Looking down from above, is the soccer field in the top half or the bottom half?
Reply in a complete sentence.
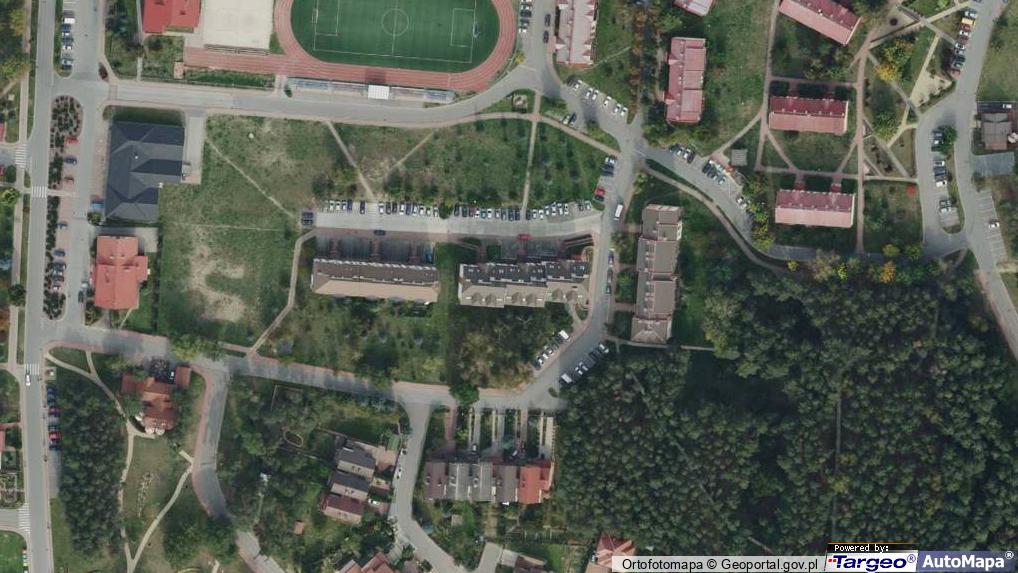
You can find the soccer field in the top half.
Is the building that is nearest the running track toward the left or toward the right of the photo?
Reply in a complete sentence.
You can find the building that is nearest the running track on the left side of the picture.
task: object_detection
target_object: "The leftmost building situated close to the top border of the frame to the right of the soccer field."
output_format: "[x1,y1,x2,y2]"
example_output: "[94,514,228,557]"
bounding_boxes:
[556,0,598,68]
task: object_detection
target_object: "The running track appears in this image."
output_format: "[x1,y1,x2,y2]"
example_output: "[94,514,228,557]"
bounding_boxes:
[183,0,514,89]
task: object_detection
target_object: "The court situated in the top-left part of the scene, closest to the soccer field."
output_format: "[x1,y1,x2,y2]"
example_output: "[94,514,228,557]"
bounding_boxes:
[204,0,273,50]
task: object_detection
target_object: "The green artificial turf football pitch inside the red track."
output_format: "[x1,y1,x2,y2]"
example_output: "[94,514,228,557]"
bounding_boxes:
[291,0,497,72]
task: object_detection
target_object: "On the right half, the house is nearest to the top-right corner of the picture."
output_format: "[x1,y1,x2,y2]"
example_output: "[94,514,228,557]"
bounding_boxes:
[983,113,1013,150]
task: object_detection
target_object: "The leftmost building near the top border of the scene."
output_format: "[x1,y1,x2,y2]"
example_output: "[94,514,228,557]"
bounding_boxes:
[140,0,200,34]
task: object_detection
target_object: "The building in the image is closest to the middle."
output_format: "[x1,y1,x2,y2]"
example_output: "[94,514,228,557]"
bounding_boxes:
[458,262,590,307]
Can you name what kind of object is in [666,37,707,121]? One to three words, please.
building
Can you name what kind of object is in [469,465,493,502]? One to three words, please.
house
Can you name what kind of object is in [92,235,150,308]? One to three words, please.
house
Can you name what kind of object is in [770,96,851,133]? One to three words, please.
building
